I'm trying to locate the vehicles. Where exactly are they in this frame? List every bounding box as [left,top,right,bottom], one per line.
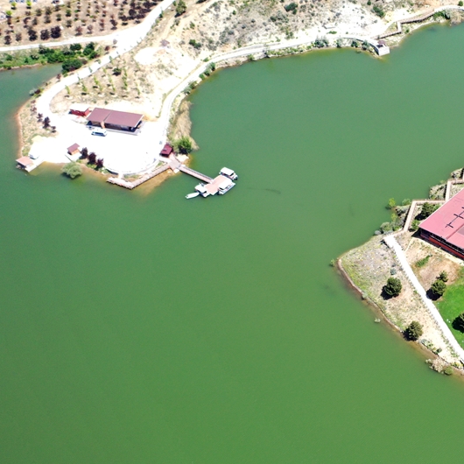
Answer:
[29,154,40,159]
[90,129,108,137]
